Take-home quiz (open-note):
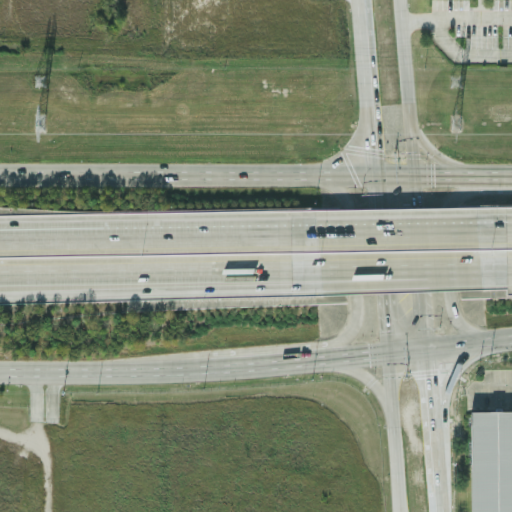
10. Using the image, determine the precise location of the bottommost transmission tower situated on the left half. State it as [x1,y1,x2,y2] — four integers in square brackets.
[33,113,46,132]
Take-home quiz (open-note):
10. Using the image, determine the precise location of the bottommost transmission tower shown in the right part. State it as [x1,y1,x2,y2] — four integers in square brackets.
[452,113,465,132]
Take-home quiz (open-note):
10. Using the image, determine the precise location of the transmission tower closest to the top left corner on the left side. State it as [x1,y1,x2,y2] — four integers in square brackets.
[34,72,48,88]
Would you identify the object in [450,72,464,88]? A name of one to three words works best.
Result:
pylon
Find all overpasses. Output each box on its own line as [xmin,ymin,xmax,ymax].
[0,206,512,309]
